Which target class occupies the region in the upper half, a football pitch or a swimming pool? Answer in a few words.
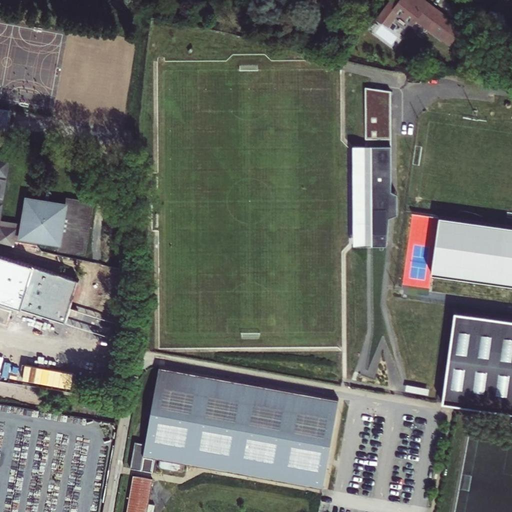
football pitch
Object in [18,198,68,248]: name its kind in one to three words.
house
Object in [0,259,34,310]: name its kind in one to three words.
building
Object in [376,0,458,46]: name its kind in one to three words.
house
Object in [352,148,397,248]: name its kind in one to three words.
building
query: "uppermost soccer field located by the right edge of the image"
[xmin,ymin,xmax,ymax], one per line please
[412,102,512,214]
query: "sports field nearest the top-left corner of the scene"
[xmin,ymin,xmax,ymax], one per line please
[54,34,134,120]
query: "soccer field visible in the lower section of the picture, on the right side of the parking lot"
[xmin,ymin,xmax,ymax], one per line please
[456,436,512,512]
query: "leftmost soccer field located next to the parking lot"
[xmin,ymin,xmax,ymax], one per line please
[158,62,341,348]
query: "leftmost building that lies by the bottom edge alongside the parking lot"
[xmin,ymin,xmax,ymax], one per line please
[142,370,338,491]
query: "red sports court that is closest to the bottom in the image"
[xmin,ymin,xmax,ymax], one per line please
[402,214,438,289]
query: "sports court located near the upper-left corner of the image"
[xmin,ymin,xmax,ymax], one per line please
[0,22,64,106]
